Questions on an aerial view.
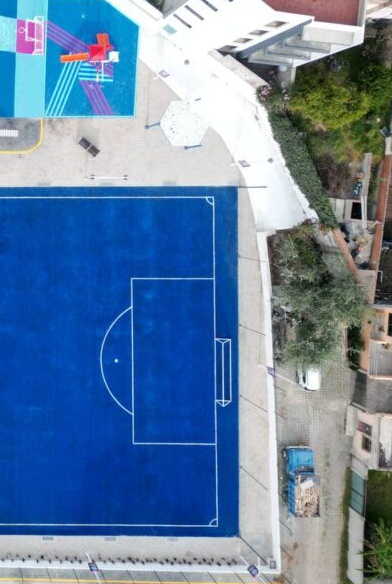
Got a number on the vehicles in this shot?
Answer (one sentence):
I count 2 vehicles.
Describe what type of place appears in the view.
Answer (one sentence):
The area seen from above is a sports ground.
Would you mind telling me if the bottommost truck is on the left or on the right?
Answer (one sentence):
The bottommost truck is on the right side of the image.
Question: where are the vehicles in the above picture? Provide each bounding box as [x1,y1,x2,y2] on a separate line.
[284,443,320,523]
[296,358,319,394]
